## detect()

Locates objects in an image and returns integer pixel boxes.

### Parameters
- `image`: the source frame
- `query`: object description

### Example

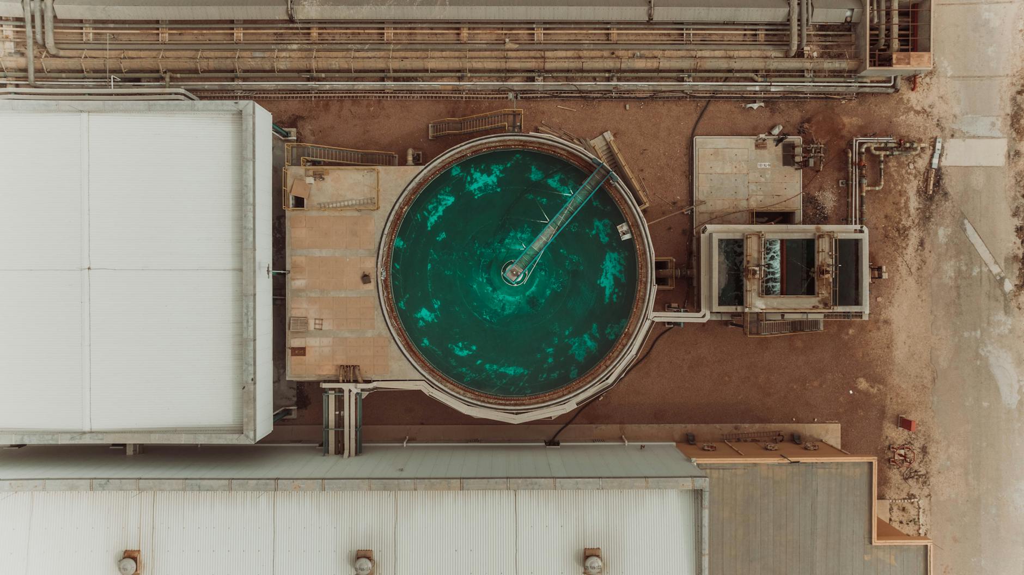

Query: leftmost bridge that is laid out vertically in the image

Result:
[743,234,764,296]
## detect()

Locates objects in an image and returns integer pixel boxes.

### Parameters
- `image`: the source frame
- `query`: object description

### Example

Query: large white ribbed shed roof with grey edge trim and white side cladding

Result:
[0,100,297,443]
